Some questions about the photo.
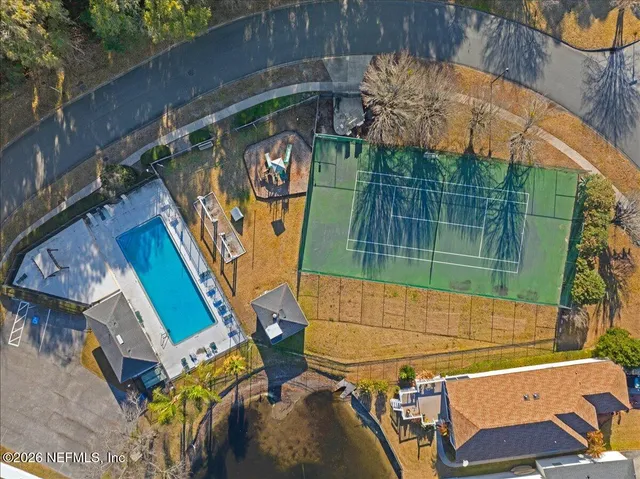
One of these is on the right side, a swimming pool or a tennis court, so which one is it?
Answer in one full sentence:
It is a tennis court that can be seen on the right side.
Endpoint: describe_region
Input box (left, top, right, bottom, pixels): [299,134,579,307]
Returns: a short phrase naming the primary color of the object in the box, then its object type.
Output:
green tennis court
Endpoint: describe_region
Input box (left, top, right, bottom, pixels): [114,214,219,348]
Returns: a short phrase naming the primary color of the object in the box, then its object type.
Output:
blue swimming pool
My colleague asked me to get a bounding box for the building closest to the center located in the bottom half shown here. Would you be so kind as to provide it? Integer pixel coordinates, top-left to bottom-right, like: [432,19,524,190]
[251,283,309,345]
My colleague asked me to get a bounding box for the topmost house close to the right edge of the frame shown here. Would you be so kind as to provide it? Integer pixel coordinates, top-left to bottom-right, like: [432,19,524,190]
[444,358,629,464]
